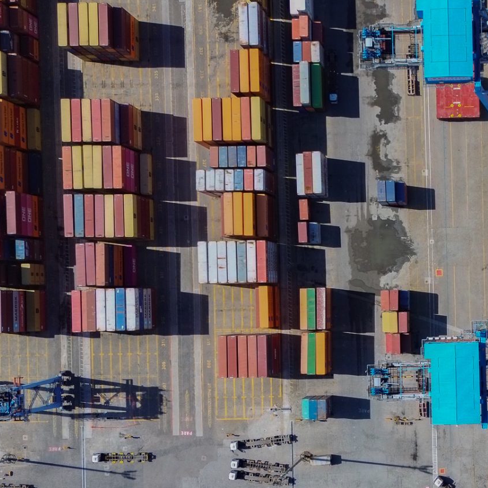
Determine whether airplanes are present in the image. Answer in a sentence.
No, no airplane can be seen from above.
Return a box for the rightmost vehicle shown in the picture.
[434,475,453,488]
